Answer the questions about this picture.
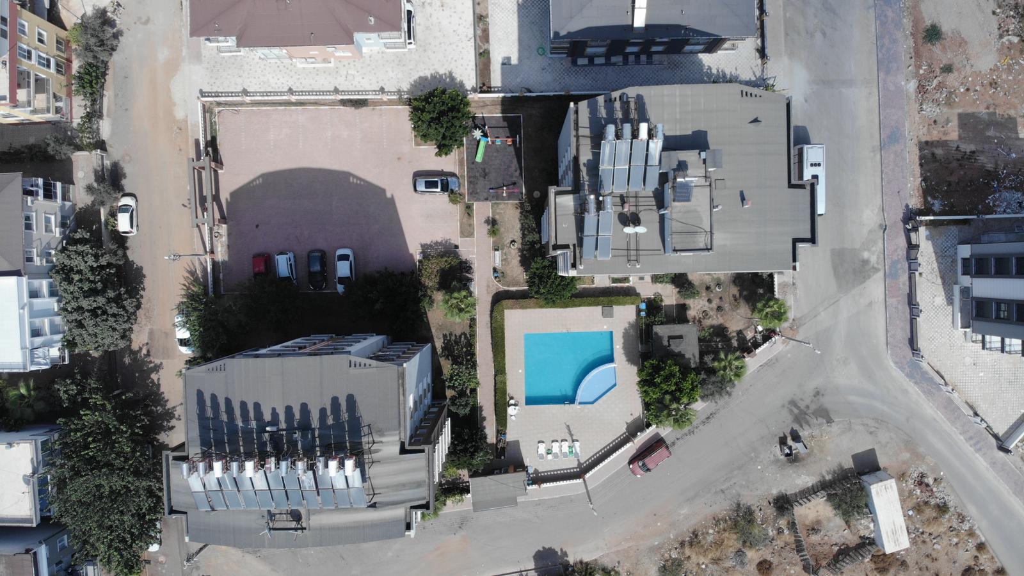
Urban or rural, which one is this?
urban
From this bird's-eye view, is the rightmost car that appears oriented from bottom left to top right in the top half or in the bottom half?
bottom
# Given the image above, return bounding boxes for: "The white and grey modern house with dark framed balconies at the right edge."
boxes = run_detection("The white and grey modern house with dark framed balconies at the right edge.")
[953,241,1024,356]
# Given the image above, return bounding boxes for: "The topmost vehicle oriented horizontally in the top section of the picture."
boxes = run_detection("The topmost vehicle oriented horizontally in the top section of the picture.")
[412,173,458,196]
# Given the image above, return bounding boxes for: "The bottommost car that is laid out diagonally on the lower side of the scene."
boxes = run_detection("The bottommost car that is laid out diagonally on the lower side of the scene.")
[626,440,673,478]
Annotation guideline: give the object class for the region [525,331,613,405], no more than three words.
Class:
swimming pool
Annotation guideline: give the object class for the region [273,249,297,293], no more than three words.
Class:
car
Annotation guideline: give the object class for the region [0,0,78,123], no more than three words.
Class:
house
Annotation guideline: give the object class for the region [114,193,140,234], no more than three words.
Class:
car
